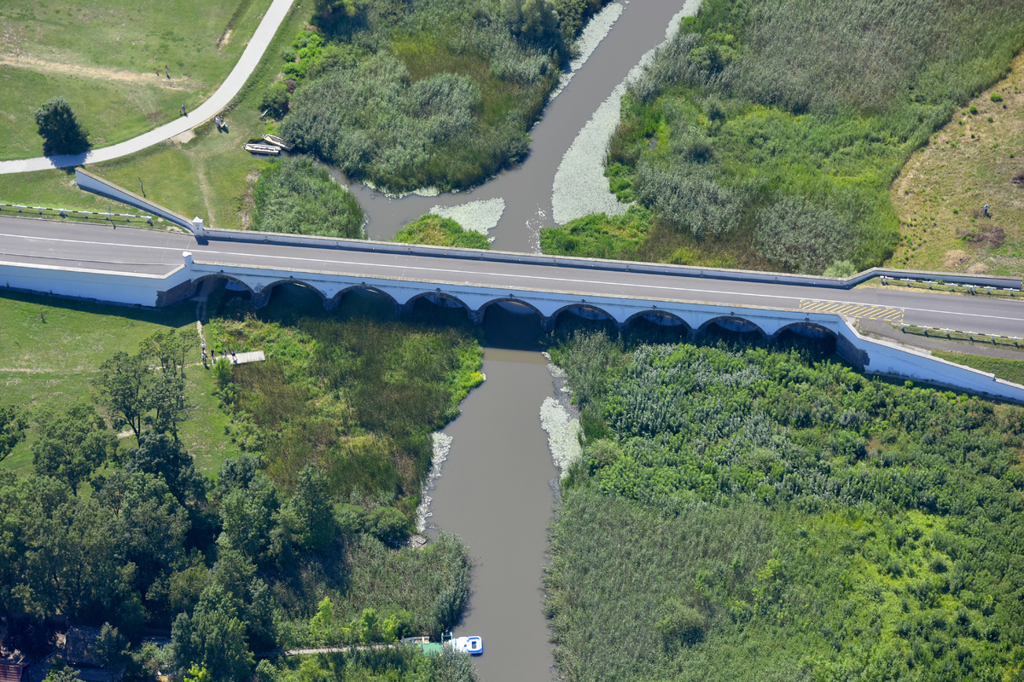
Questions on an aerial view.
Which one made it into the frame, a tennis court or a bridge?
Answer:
bridge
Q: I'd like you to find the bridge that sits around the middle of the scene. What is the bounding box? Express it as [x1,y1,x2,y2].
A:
[187,227,846,353]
